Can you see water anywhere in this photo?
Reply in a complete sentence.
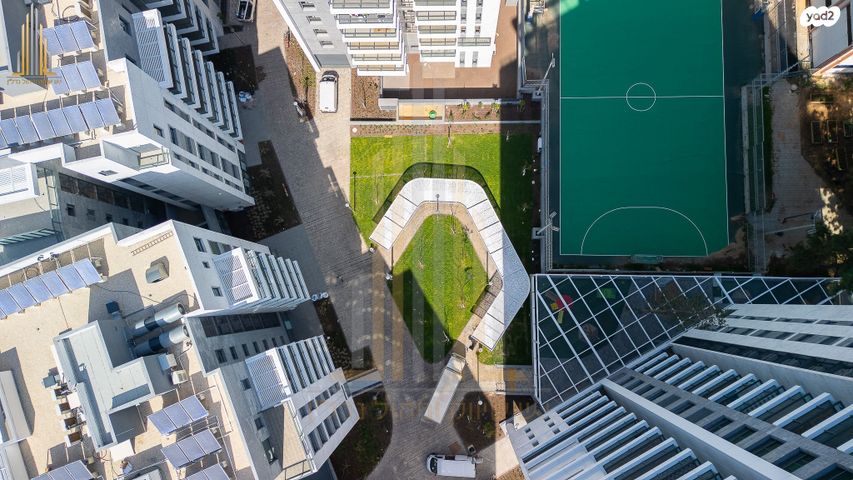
No, there's no water in this view.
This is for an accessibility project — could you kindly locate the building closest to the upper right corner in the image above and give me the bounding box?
[793,0,853,80]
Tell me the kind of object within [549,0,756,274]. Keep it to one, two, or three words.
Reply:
sports court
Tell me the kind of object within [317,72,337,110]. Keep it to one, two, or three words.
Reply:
vehicle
